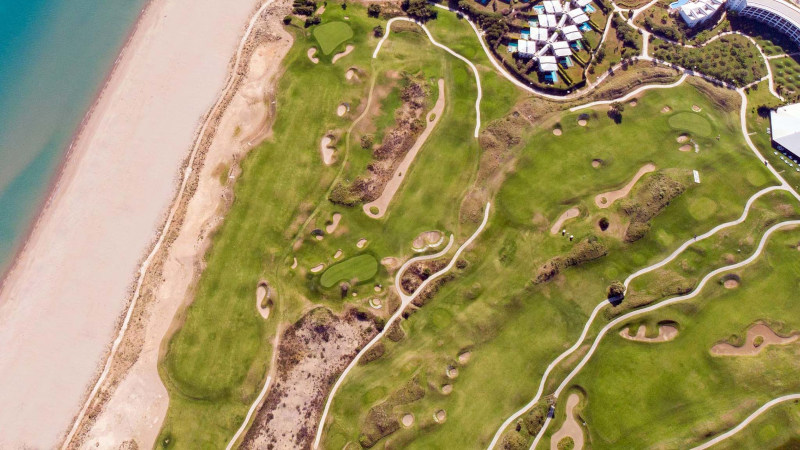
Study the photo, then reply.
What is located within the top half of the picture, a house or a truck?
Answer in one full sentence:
What appears within the top half of the picture is a house.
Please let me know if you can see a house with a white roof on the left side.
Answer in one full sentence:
No, looking on the left side, there is no house with a white roof.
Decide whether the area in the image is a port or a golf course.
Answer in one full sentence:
What you see here is a golf course.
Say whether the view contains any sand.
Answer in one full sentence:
Yes, sand shows up in the scene.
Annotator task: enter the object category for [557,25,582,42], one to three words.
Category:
house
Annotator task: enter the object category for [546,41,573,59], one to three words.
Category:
house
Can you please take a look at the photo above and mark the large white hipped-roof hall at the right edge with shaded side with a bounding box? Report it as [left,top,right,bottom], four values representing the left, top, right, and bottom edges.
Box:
[770,104,800,159]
